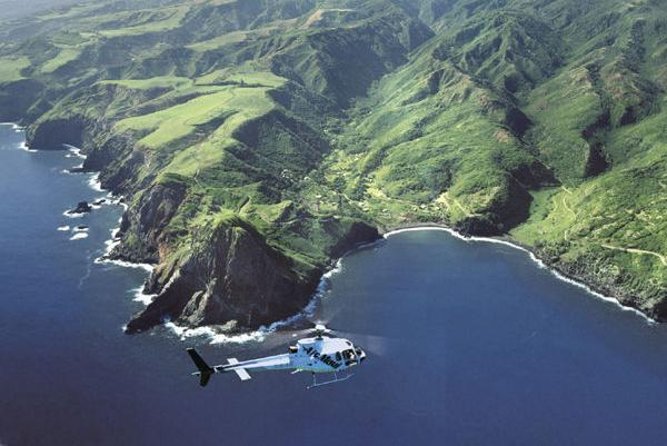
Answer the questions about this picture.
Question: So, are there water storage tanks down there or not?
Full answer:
No, no water storage tank can be seen from above.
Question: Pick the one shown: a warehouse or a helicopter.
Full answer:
There is a helicopter in the scene.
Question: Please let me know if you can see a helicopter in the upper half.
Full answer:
No, in the upper half there is no helicopter.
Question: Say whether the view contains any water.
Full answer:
Yes, some water is visible.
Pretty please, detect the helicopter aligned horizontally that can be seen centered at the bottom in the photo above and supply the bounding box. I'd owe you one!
[184,285,408,388]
